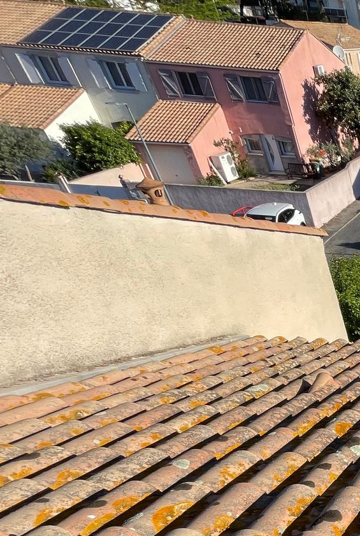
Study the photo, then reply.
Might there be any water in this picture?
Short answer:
No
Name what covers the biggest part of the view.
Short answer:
buildings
